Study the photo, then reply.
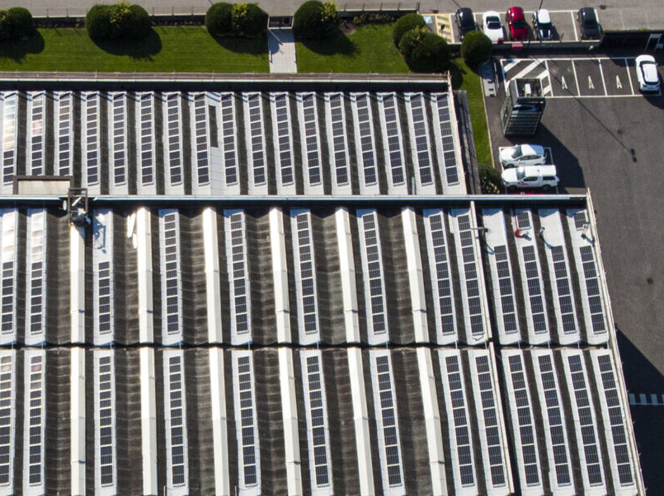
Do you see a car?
Yes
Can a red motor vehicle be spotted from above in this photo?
Yes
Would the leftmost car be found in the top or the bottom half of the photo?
top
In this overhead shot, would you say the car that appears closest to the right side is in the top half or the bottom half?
top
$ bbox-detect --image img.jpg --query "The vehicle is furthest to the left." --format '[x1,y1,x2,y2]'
[455,1,480,36]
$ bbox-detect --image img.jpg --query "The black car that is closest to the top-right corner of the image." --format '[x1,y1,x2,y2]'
[577,2,603,38]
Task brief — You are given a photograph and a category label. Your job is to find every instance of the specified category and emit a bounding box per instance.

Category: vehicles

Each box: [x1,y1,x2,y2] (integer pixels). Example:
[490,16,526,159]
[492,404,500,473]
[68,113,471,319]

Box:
[637,53,662,87]
[455,1,480,36]
[577,2,603,38]
[506,5,528,37]
[486,6,508,38]
[533,6,555,36]
[502,160,559,187]
[499,143,548,165]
